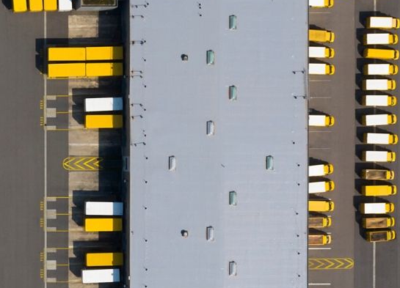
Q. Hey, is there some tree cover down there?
No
